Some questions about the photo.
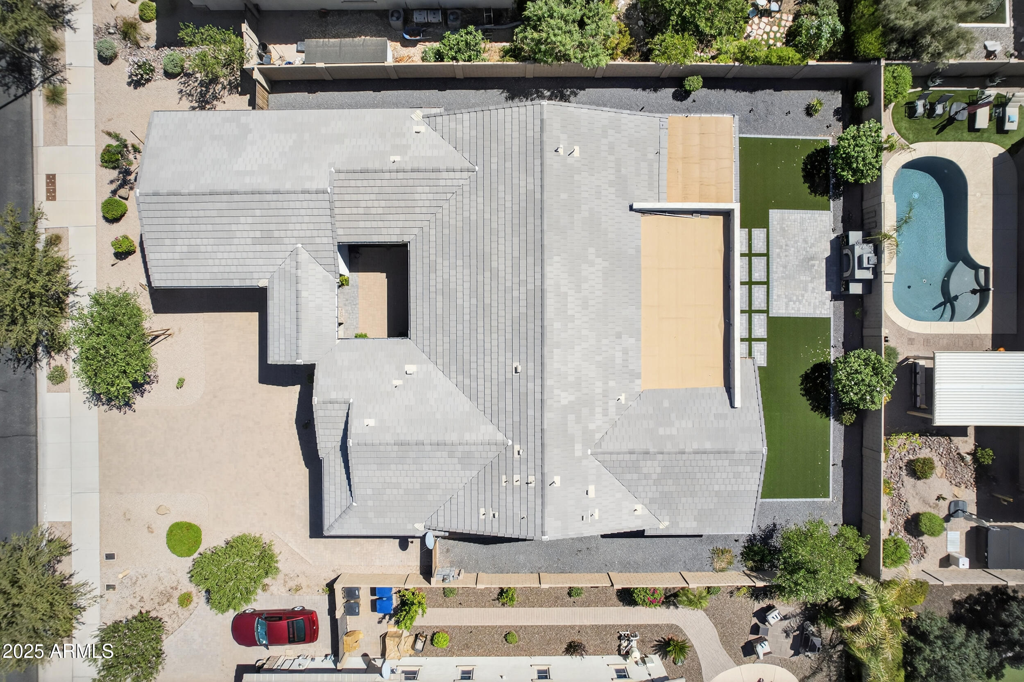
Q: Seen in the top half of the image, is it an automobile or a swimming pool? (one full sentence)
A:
The one visible in the top half of the image is a swimming pool.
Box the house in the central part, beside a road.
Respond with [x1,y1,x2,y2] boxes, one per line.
[134,98,768,543]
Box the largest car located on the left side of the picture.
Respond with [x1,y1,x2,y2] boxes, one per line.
[233,607,320,654]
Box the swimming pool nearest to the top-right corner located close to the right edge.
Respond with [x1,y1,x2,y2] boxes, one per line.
[893,156,990,321]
